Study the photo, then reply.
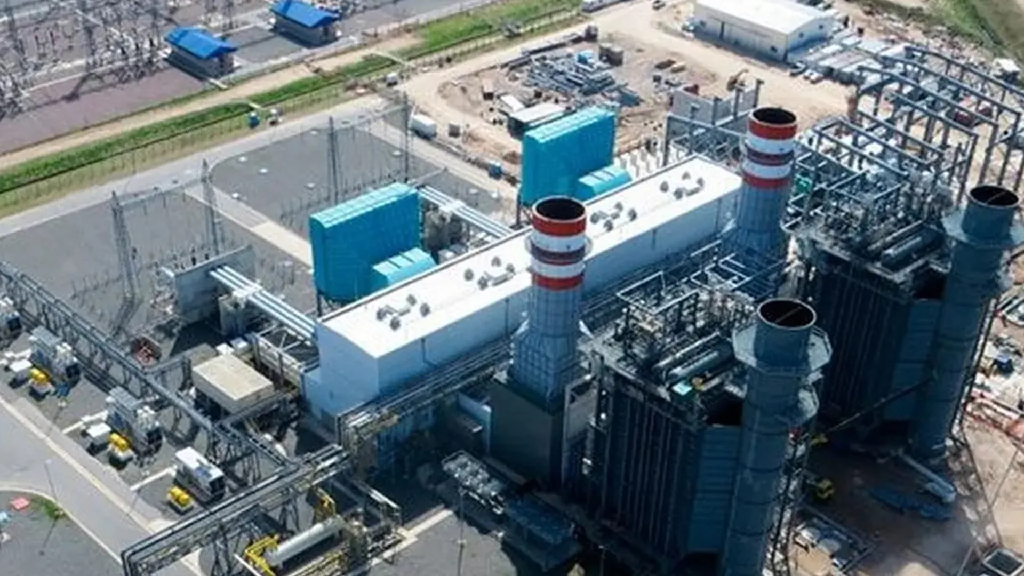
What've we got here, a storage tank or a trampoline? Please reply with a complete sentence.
There is a storage tank in the scene.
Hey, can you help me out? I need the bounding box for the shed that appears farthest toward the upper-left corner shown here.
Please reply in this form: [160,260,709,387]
[161,30,232,77]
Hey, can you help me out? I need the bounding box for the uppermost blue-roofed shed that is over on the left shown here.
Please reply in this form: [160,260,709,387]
[269,1,338,45]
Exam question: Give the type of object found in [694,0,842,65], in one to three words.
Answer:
building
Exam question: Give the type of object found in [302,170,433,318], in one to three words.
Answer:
house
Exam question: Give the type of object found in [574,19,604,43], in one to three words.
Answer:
truck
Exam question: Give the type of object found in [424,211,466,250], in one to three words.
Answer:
storage tank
